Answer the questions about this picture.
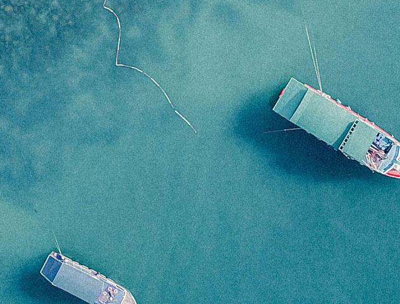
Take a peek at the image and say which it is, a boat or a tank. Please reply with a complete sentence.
The image shows a boat.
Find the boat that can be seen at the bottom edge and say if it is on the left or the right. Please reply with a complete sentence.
It is on the left.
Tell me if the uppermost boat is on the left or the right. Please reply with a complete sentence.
The uppermost boat appears in the right half of the scene.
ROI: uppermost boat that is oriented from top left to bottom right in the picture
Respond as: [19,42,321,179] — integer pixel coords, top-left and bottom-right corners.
[272,78,400,176]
